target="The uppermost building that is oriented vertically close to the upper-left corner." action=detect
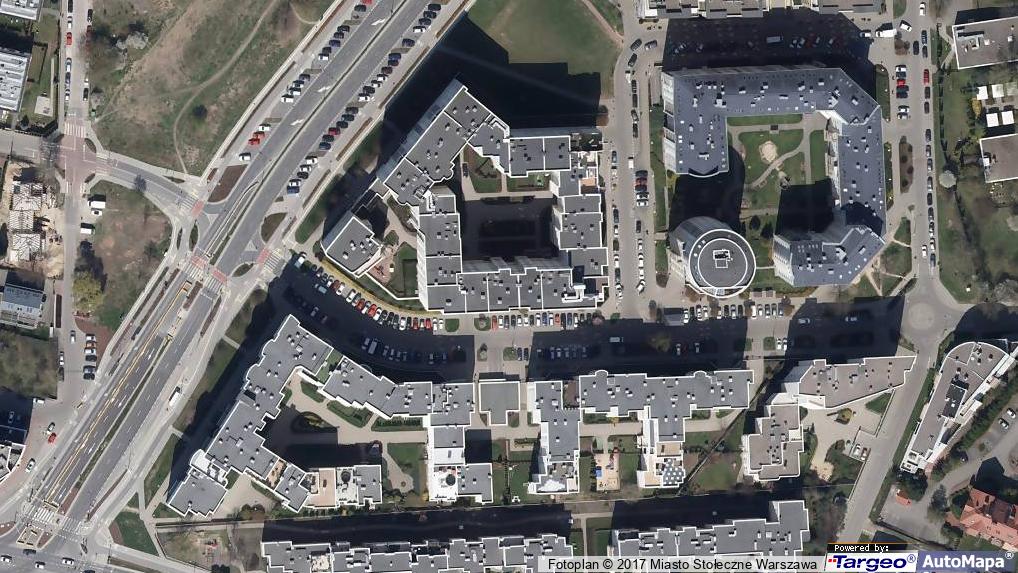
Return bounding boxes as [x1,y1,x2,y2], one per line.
[0,50,29,110]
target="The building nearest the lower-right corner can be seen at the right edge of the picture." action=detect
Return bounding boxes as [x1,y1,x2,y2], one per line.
[954,482,1018,551]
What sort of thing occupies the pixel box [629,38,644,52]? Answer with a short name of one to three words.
vehicle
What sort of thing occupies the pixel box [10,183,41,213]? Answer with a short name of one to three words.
house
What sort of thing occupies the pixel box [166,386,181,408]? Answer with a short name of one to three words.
vehicle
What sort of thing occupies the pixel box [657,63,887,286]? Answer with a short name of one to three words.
building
